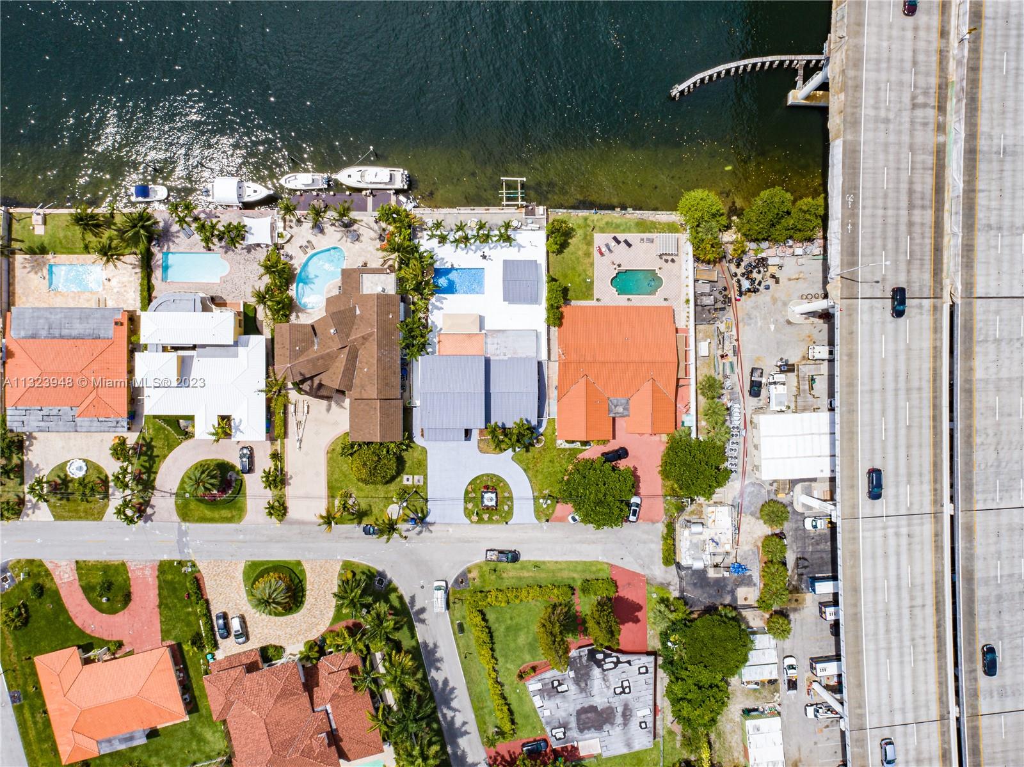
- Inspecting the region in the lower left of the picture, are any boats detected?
No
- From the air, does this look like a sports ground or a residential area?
residential area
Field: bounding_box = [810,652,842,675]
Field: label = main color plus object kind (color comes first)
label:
white bus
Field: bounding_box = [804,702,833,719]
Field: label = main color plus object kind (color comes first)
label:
white vehicle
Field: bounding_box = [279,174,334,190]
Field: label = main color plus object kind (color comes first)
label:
white boat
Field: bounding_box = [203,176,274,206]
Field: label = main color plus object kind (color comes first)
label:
white boat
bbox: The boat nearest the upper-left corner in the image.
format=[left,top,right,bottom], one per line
[125,184,168,201]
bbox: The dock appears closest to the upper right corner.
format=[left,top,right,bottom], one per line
[783,59,832,110]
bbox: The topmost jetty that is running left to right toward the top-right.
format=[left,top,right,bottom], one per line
[667,54,826,96]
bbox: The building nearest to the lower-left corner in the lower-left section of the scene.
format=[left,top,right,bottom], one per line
[34,643,190,766]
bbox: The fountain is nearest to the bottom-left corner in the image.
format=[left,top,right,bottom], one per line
[69,459,88,477]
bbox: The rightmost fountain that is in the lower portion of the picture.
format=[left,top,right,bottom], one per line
[481,490,496,506]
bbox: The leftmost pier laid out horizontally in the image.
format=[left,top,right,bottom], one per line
[289,192,402,211]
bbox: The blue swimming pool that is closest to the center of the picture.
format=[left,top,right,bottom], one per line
[433,266,486,296]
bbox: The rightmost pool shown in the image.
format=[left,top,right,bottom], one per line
[608,267,666,297]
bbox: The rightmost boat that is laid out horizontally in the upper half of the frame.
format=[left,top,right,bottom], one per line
[334,168,413,189]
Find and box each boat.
[203,176,274,206]
[125,184,168,201]
[279,174,334,190]
[401,193,416,209]
[334,168,413,189]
